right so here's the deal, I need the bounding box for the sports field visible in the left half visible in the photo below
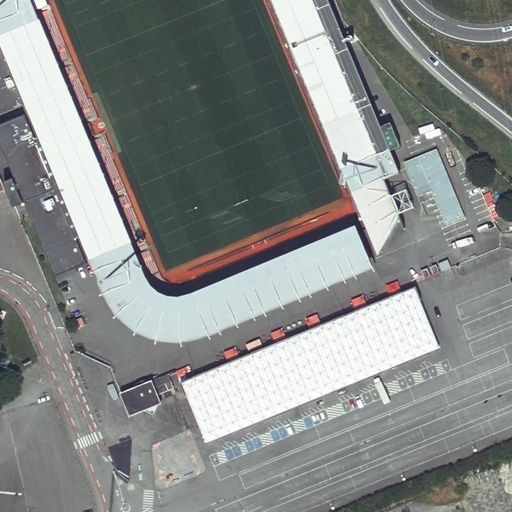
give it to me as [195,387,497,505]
[58,0,343,271]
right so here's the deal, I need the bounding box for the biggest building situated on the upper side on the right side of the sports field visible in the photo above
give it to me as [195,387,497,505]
[404,149,466,225]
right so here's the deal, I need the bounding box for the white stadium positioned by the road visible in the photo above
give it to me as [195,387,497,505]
[0,0,400,348]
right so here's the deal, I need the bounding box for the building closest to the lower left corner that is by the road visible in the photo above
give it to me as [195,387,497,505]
[108,438,132,484]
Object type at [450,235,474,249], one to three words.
vehicle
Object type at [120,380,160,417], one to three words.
building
